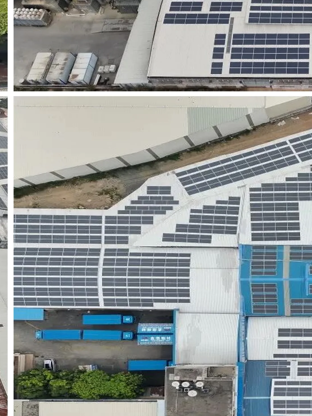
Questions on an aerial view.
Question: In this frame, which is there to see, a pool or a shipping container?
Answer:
shipping container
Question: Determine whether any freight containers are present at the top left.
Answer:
Yes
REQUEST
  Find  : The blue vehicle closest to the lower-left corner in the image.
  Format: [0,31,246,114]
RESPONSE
[31,326,81,339]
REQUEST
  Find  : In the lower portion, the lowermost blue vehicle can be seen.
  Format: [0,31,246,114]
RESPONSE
[128,356,164,369]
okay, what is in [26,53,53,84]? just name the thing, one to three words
shipping container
